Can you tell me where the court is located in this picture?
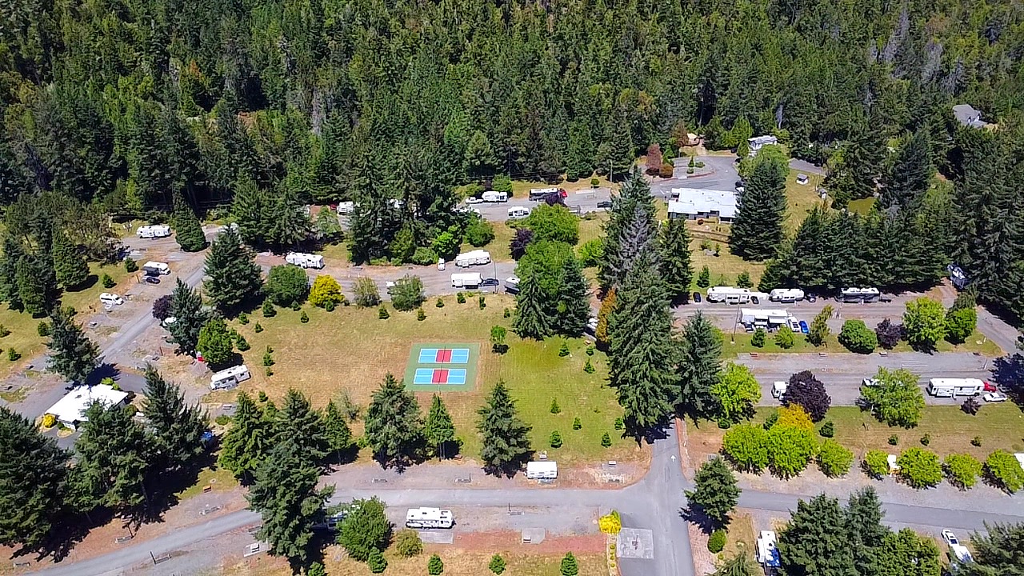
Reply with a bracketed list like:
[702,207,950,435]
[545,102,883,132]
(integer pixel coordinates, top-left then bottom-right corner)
[404,343,479,391]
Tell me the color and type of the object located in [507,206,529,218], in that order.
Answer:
white vehicle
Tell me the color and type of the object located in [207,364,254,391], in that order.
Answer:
white trailer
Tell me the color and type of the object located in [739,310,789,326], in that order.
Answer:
white trailer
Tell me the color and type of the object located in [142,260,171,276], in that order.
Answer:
white camper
